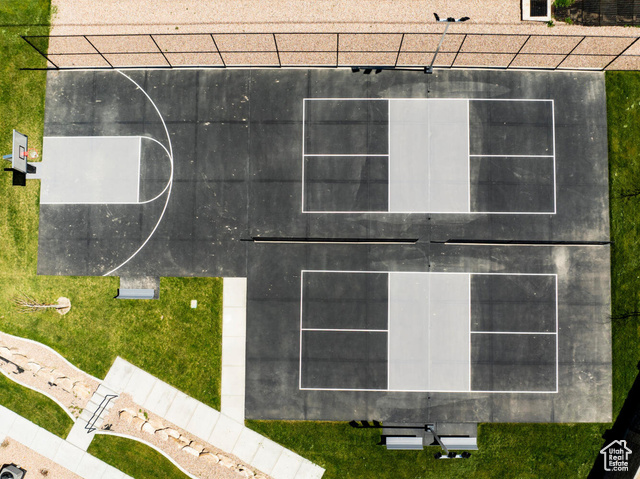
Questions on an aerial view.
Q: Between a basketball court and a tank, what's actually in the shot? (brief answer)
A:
basketball court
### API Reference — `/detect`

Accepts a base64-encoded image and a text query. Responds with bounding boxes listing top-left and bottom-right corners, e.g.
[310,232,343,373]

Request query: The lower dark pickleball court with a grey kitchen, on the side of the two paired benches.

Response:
[245,241,612,423]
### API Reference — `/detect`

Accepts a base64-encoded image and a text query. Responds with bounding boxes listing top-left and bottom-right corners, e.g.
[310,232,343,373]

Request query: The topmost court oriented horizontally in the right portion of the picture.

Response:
[248,68,609,243]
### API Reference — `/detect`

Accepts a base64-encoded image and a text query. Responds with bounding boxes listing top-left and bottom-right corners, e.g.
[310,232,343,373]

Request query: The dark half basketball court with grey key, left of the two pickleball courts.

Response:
[37,68,248,278]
